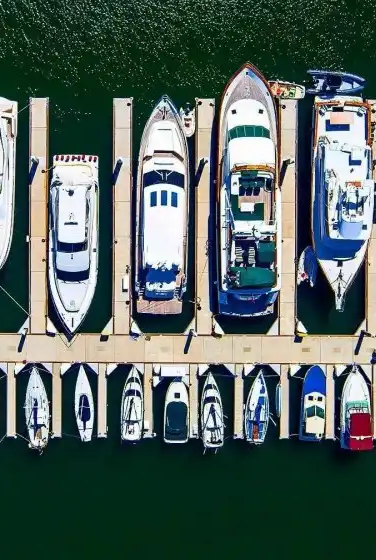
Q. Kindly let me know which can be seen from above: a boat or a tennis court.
boat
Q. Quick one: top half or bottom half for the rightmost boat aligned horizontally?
top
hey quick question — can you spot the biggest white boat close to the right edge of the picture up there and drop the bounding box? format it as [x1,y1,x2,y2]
[298,94,375,313]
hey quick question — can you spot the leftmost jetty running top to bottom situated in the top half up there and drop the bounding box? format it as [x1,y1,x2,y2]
[16,94,61,333]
